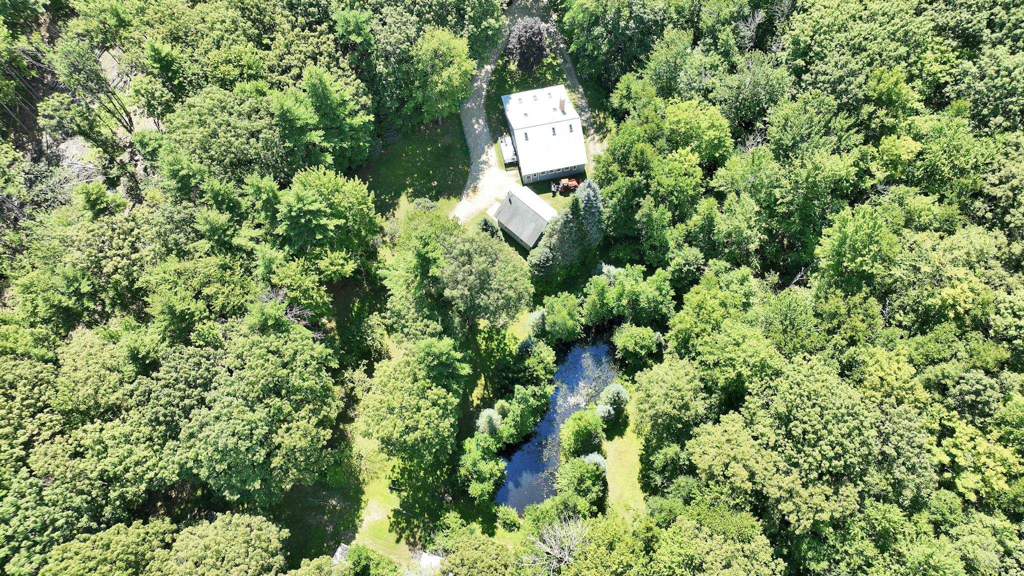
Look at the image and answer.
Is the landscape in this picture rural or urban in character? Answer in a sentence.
This place is rural.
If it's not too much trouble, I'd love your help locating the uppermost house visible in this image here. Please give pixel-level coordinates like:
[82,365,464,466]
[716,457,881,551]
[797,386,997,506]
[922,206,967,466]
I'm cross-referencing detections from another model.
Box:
[501,84,588,184]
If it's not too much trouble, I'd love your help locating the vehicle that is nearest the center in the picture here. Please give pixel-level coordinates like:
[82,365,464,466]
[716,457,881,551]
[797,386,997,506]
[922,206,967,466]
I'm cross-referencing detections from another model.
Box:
[553,179,583,194]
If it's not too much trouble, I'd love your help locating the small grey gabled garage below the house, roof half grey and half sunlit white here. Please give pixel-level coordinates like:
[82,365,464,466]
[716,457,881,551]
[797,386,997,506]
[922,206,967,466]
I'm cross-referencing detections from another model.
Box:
[494,188,559,250]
